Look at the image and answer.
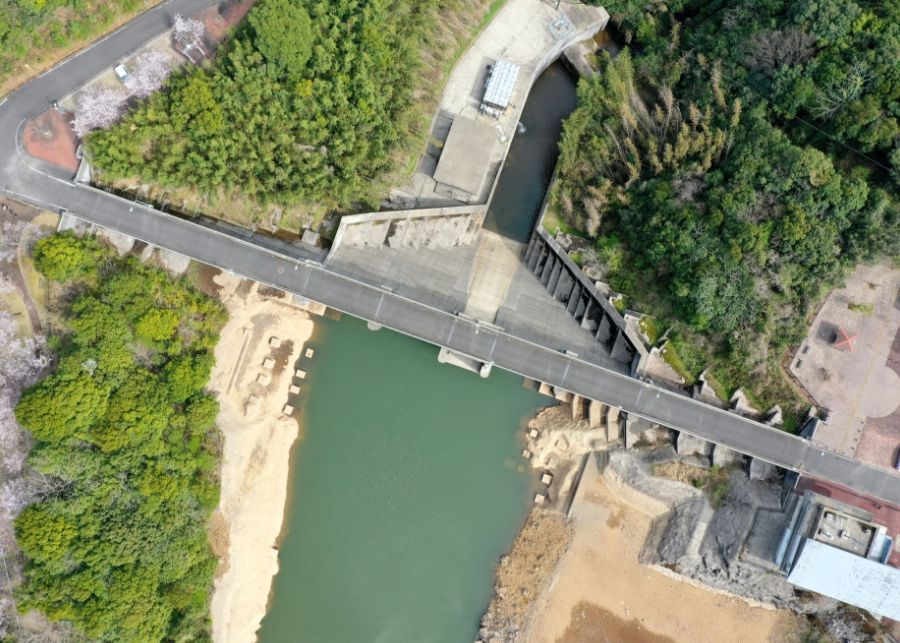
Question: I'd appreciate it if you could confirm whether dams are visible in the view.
Yes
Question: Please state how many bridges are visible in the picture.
1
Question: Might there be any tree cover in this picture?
Yes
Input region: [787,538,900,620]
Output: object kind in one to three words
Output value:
building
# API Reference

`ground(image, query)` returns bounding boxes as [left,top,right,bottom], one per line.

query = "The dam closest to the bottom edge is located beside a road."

[77,210,782,477]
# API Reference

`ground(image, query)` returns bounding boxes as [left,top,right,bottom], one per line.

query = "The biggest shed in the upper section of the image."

[434,115,497,206]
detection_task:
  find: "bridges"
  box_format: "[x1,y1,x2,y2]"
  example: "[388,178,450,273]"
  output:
[66,183,813,473]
